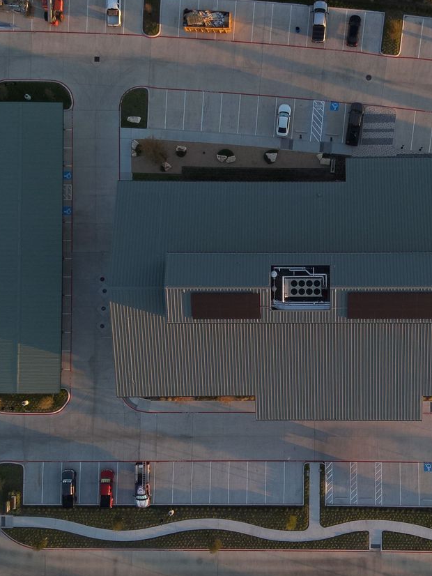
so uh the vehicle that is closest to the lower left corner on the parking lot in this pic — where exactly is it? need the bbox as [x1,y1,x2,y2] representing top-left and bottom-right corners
[56,471,75,511]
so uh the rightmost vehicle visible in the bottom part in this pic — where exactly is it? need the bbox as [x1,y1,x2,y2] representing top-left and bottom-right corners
[131,464,150,509]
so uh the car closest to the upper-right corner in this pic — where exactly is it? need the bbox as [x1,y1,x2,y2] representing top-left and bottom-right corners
[346,12,363,46]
